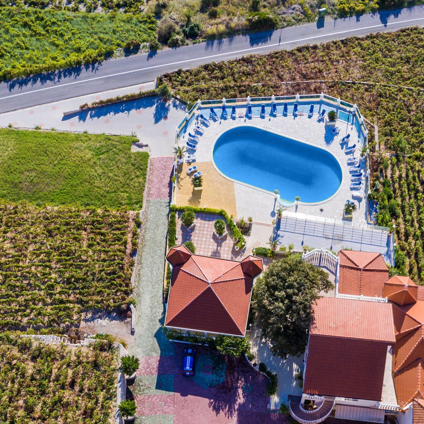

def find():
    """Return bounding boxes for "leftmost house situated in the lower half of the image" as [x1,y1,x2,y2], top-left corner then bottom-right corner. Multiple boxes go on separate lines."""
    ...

[164,244,263,340]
